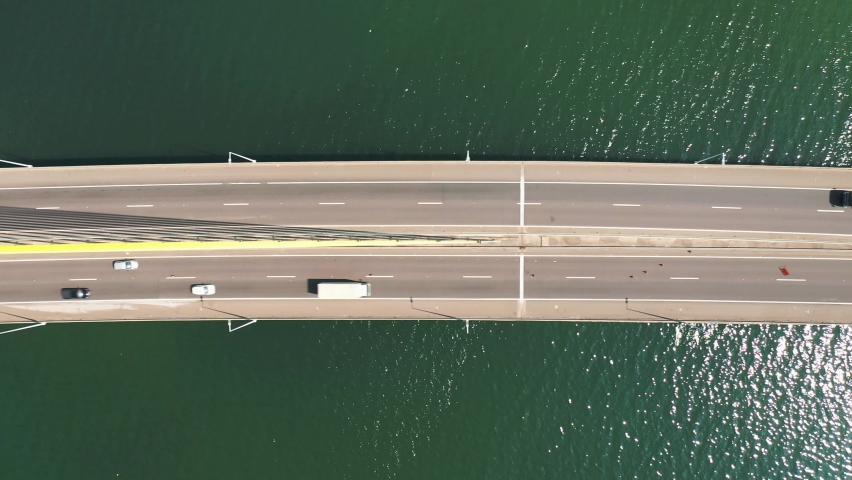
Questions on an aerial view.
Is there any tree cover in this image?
No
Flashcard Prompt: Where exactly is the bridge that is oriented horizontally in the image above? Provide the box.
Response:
[0,161,852,324]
